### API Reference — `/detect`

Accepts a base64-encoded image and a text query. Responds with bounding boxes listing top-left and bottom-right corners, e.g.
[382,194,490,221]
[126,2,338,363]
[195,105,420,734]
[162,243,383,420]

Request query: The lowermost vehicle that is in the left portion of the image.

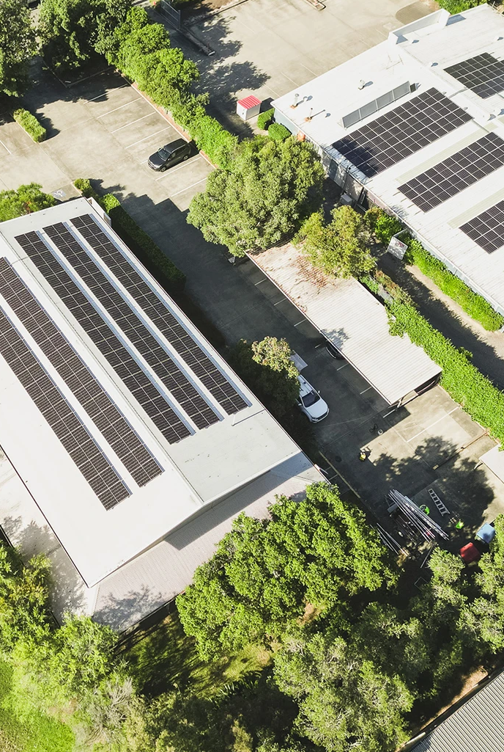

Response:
[145,135,192,171]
